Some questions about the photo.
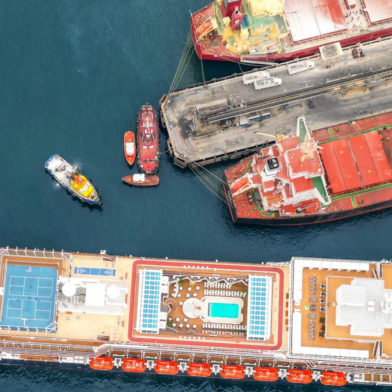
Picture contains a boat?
Yes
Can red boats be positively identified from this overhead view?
Yes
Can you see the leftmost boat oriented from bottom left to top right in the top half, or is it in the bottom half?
top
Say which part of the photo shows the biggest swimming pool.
bottom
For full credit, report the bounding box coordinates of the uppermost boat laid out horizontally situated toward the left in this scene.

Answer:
[122,174,159,187]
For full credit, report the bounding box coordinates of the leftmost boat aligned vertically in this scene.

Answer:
[123,131,135,166]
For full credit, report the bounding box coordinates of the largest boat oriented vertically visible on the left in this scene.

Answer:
[134,101,162,177]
